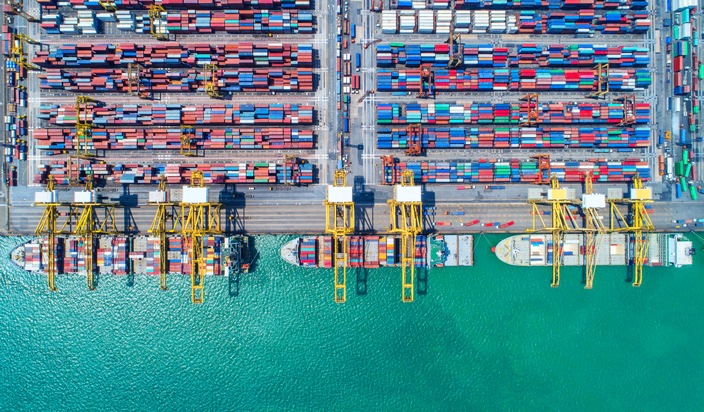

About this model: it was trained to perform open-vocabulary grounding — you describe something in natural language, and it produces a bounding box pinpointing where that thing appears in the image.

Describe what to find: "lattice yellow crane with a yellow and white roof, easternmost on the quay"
[602,179,657,289]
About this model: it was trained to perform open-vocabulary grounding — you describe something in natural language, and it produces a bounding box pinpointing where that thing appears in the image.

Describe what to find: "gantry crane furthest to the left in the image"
[33,176,90,292]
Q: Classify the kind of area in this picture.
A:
port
